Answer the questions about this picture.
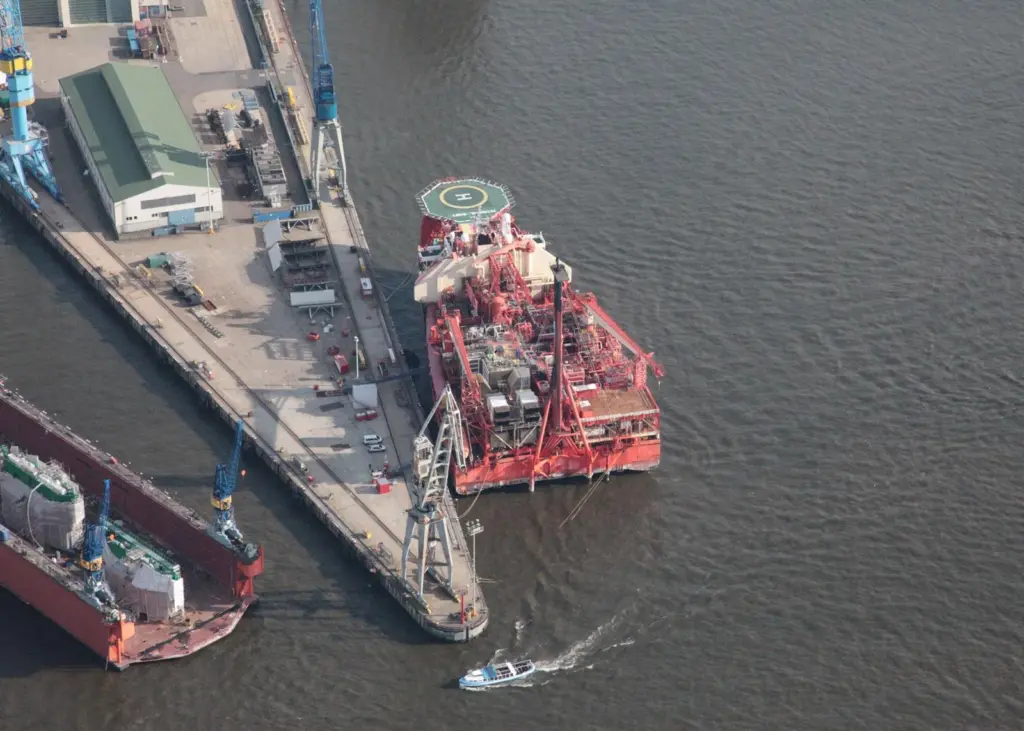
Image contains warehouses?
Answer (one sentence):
Yes, looking at the shot, I can spot a warehouse.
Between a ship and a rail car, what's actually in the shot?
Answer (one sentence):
Visible in the photo is a ship.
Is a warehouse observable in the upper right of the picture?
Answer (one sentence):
No, I can find no warehouse in the upper right of the picture.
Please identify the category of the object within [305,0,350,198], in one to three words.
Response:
container crane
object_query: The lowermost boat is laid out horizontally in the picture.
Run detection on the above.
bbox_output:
[460,655,538,688]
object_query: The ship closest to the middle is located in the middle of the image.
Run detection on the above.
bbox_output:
[407,175,667,494]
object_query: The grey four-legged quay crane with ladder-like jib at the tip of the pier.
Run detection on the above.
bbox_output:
[397,385,471,613]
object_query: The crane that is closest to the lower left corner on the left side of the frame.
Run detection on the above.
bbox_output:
[67,479,118,617]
